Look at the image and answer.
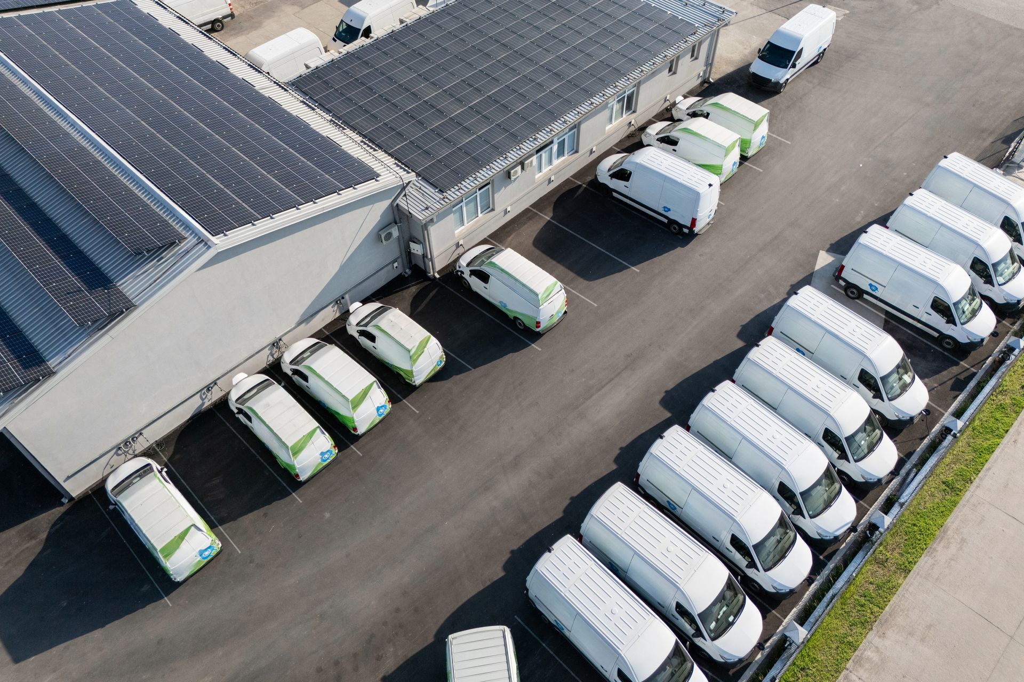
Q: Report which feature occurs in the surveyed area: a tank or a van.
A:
van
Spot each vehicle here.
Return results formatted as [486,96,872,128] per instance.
[105,461,224,585]
[634,423,817,600]
[767,283,936,428]
[342,301,452,396]
[529,534,712,682]
[643,116,742,183]
[325,0,414,52]
[243,32,326,85]
[224,377,340,485]
[686,377,860,544]
[145,0,228,38]
[284,340,393,439]
[448,634,518,682]
[731,330,901,486]
[670,92,771,159]
[582,481,769,669]
[746,2,838,92]
[833,222,1002,350]
[460,249,565,334]
[598,144,723,237]
[919,150,1024,266]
